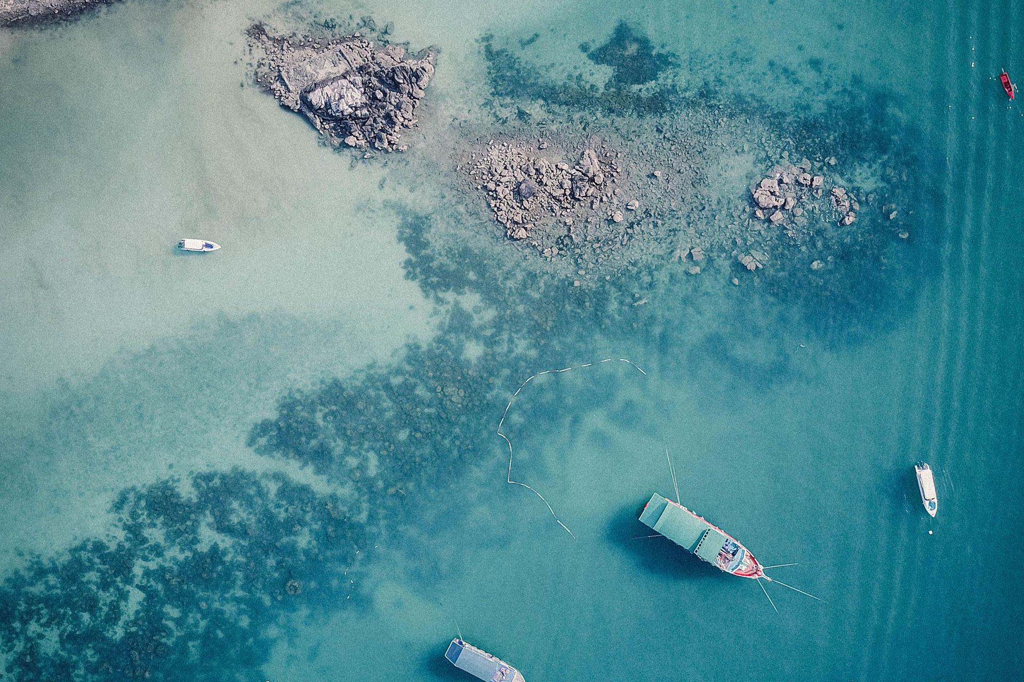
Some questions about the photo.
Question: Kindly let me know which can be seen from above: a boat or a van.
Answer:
boat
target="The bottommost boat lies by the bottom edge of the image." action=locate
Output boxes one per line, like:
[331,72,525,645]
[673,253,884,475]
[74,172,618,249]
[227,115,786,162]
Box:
[445,635,529,682]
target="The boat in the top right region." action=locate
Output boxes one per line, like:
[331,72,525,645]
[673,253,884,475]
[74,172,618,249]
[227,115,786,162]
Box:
[1000,70,1015,100]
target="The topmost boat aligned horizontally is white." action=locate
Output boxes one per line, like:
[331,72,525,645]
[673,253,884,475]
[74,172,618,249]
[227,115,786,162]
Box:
[178,238,222,252]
